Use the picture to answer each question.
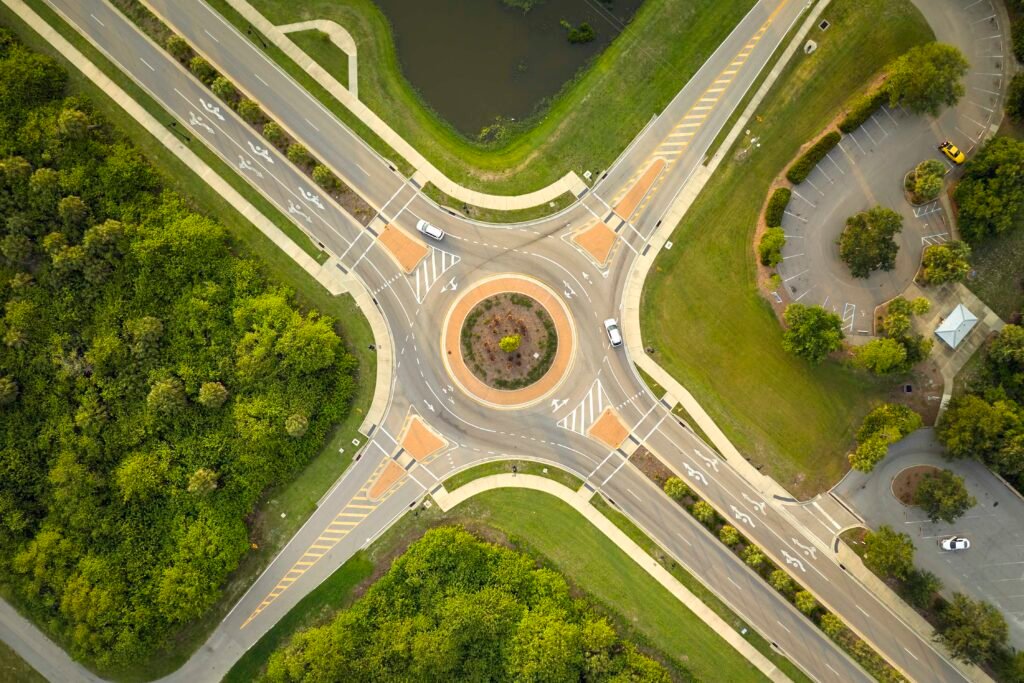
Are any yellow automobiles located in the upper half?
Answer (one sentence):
Yes, a yellow automobile can be seen in the upper half.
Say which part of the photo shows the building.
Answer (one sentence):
The building appears toward the right of the photo.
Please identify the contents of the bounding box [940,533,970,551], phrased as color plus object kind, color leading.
white car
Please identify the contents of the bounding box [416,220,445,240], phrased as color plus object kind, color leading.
white car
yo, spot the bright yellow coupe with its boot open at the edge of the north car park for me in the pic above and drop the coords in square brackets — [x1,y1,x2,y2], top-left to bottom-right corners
[937,141,966,165]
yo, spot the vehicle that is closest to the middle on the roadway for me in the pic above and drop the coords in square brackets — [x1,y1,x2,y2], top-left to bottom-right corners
[604,318,622,347]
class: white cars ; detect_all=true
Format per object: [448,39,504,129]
[604,318,622,347]
[940,533,970,551]
[416,220,445,240]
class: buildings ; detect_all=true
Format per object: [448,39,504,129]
[928,304,978,348]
